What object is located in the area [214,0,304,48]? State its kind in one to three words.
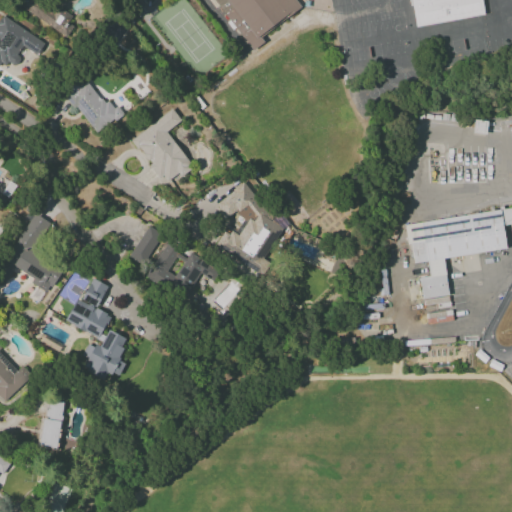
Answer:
building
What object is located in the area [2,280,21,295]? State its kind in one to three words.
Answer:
swimming pool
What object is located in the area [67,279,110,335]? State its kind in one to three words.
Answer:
house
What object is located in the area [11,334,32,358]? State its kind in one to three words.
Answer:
swimming pool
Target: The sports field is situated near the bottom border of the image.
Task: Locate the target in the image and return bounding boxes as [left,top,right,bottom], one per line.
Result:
[134,380,512,512]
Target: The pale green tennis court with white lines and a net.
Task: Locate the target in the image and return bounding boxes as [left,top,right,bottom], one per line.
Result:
[154,0,226,72]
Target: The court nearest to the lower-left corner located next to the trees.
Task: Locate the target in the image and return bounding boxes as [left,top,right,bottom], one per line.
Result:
[60,276,90,304]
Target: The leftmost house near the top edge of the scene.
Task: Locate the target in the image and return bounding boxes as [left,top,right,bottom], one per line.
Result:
[0,16,48,66]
